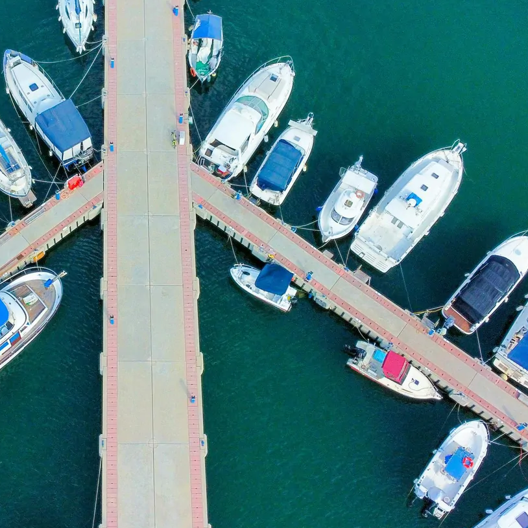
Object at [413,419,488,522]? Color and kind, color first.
white boat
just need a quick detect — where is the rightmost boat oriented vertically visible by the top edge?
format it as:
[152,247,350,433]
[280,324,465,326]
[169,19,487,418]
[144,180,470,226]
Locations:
[188,10,224,87]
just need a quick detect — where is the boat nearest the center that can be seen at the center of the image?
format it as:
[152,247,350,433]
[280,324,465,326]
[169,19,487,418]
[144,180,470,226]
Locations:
[229,263,309,315]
